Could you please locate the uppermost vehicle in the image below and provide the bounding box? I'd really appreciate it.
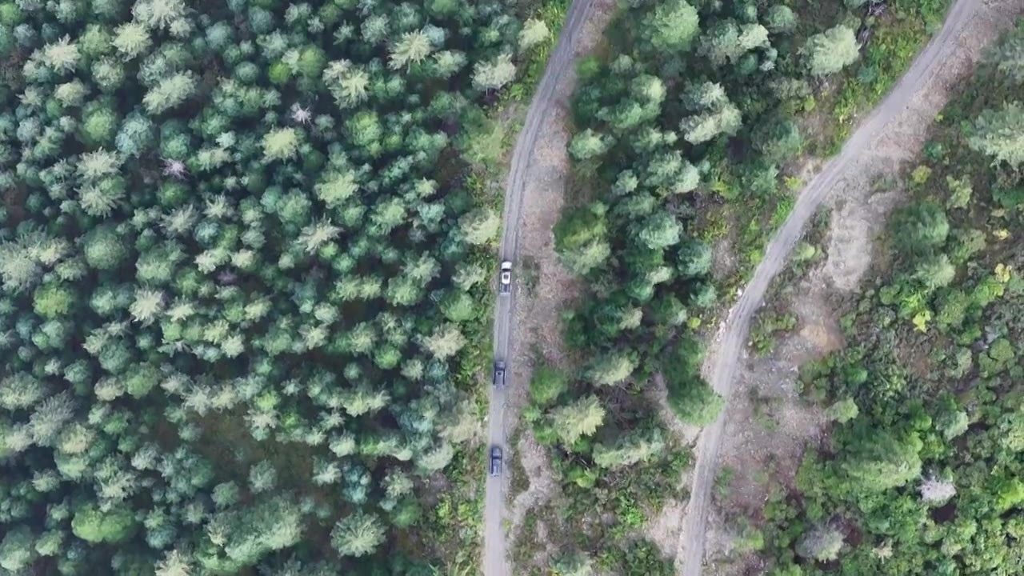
[499,261,513,295]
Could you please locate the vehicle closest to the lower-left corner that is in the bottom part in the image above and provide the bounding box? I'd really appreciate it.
[490,446,503,477]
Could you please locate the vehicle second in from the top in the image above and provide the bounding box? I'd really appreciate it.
[493,360,506,390]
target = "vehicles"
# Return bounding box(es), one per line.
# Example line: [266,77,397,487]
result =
[499,261,513,295]
[490,446,503,477]
[493,360,506,390]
